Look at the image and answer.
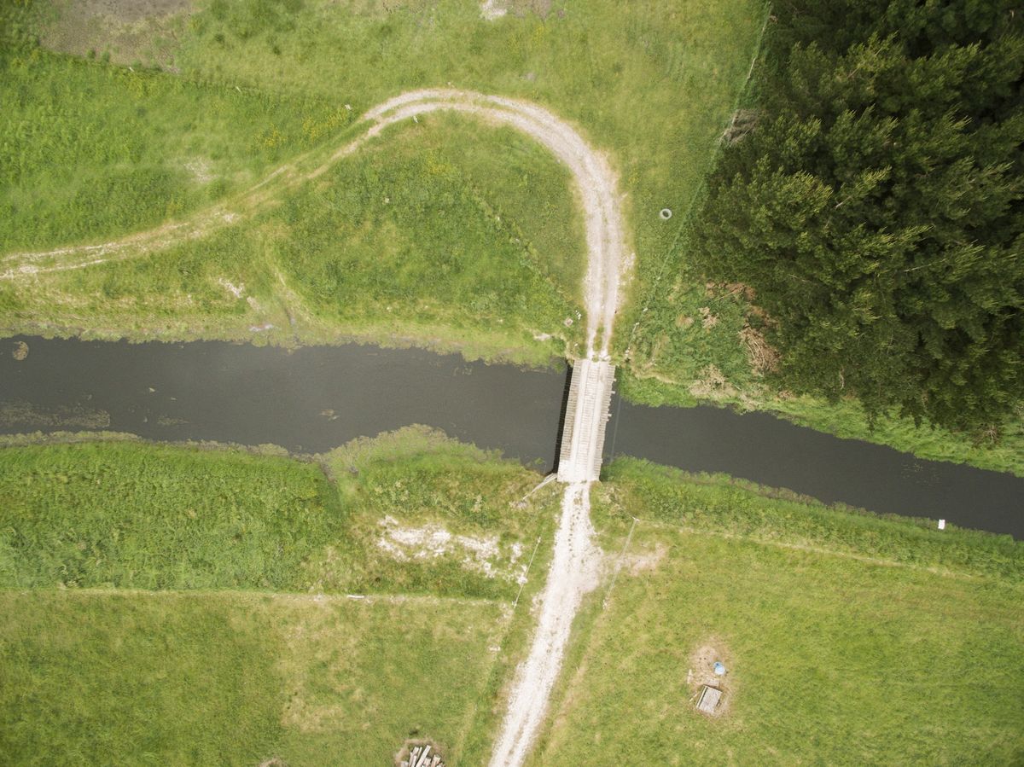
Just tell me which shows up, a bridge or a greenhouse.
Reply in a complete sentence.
This aerial view contains a bridge.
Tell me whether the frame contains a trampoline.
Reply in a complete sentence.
No, there isn't any trampoline down there.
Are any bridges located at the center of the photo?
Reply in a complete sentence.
Yes, at the center of the photo there is a bridge.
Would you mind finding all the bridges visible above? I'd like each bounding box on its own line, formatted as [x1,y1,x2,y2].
[556,358,617,486]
